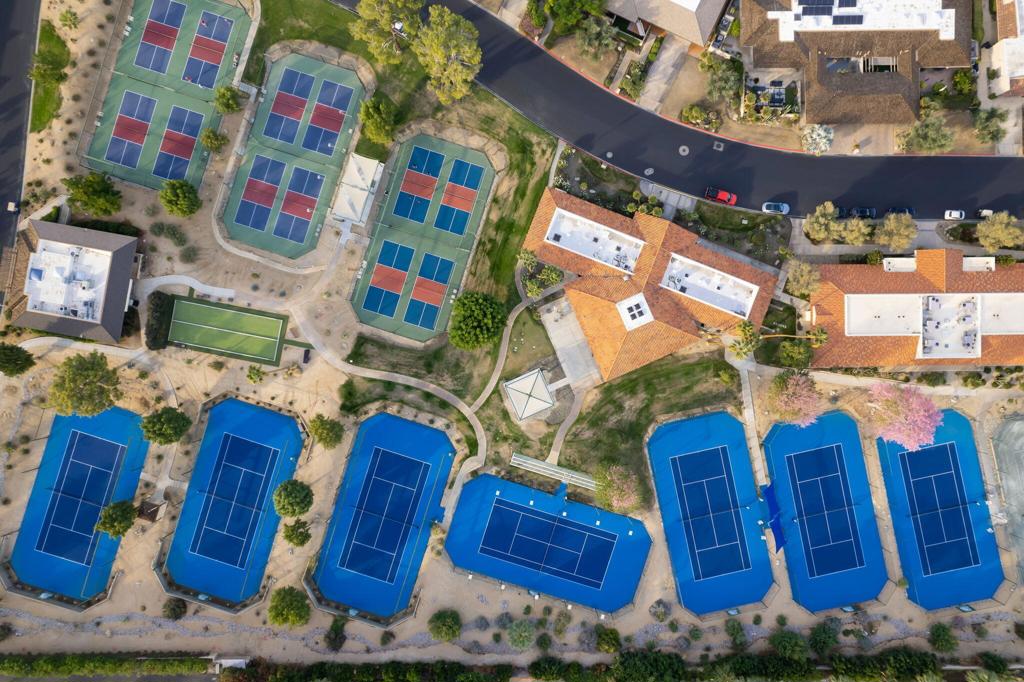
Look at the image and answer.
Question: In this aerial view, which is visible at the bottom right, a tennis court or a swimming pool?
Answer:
tennis court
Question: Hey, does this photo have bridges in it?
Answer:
No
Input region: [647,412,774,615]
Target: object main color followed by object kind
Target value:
blue tennis court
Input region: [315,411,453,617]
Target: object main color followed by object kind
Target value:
blue tennis court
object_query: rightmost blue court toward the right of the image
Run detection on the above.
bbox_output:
[876,408,1003,611]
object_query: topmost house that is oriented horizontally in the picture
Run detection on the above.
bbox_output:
[599,0,730,54]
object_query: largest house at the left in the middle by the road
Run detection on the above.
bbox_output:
[9,219,141,341]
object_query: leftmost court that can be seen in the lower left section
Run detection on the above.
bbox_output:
[11,400,149,600]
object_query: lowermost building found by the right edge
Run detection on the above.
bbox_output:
[796,249,1024,367]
